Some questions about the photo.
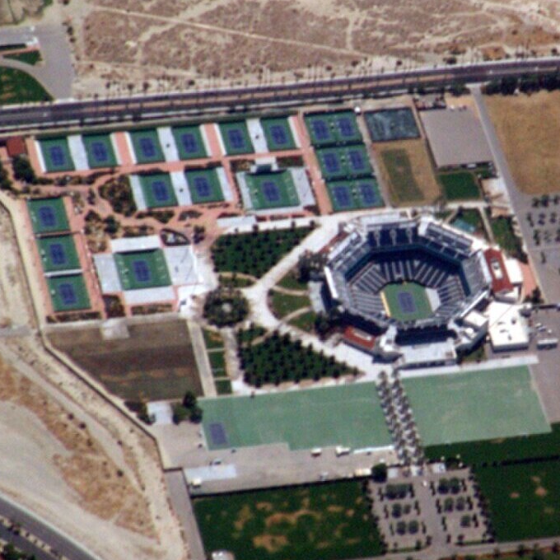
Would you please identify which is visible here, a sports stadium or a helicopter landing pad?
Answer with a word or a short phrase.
sports stadium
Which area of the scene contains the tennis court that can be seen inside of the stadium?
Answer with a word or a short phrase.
right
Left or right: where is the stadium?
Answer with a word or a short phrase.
right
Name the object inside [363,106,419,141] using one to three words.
tennis court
